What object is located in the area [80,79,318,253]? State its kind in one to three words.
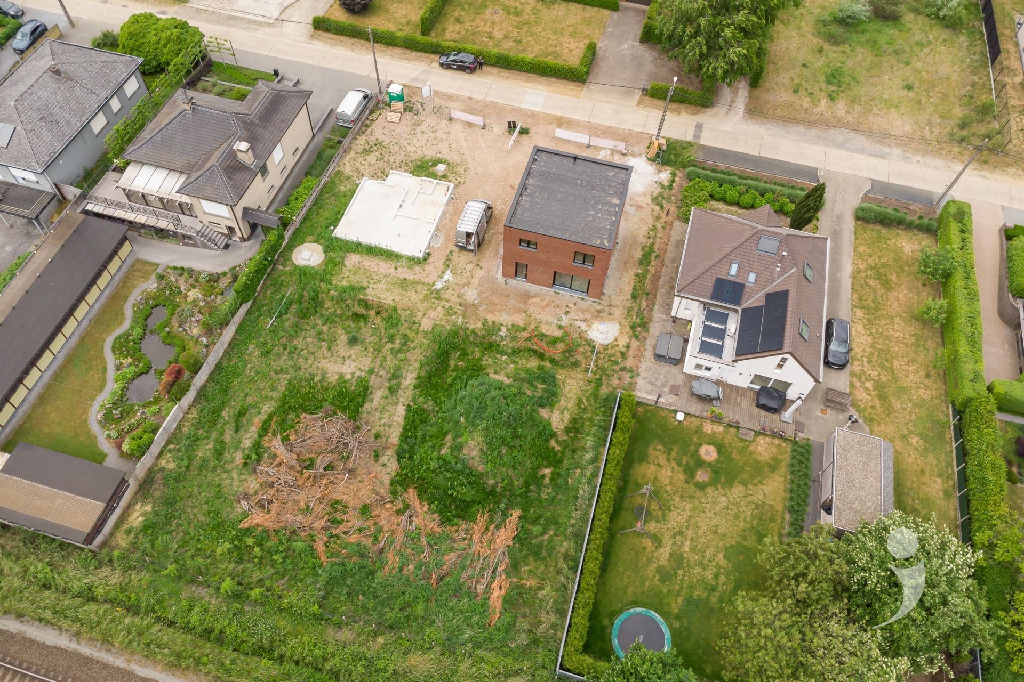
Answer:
house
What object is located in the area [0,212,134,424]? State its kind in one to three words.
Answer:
shed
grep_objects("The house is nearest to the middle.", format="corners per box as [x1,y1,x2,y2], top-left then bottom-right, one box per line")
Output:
[502,145,635,300]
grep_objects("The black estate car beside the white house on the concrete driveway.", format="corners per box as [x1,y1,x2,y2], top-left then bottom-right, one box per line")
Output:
[825,314,856,368]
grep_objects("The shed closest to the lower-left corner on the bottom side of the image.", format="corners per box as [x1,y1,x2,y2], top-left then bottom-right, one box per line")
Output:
[0,442,133,551]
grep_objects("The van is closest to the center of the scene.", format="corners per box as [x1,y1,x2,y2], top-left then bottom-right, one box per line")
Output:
[453,202,489,254]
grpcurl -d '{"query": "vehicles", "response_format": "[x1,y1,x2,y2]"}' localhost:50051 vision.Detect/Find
[9,20,49,51]
[825,314,856,368]
[437,50,479,72]
[453,202,489,254]
[0,0,24,14]
[329,89,365,125]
